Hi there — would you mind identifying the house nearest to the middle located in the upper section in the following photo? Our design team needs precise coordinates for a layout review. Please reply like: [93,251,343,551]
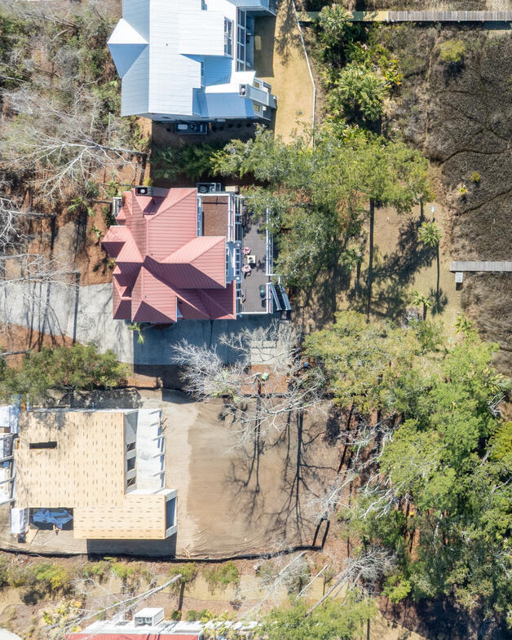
[99,185,292,322]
